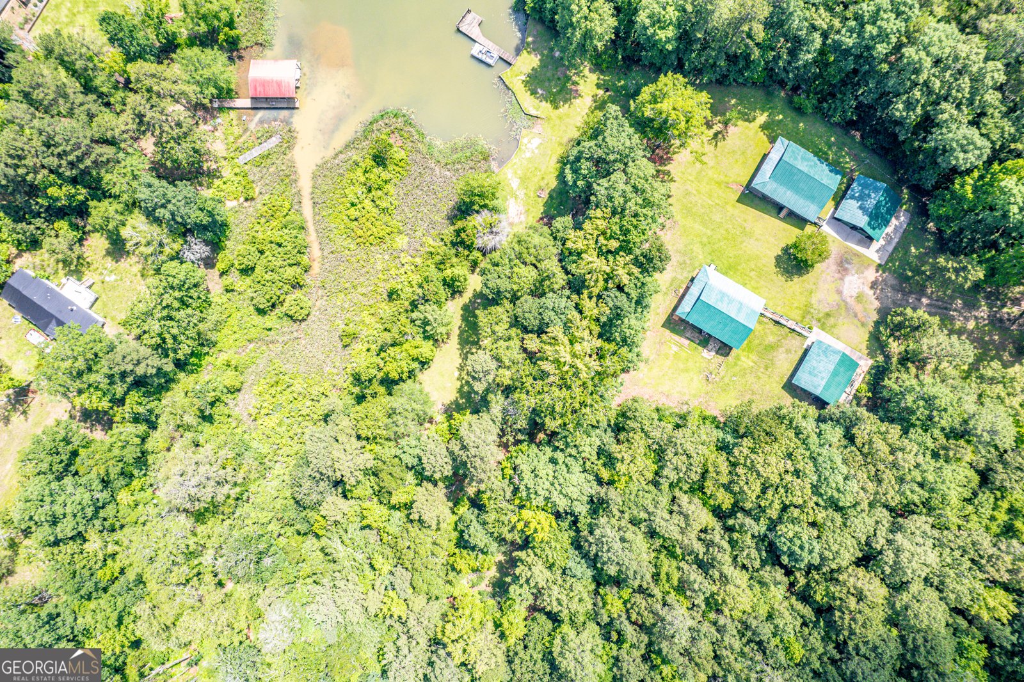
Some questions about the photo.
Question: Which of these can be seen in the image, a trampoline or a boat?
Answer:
boat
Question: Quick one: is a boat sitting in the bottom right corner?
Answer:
No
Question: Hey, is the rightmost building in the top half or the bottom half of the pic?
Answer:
top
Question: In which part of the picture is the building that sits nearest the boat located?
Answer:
top left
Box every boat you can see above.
[471,42,499,67]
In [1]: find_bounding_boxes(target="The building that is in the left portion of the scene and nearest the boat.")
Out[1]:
[247,59,304,106]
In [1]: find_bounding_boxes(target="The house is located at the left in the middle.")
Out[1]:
[2,268,105,345]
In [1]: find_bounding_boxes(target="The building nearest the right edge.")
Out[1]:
[830,175,902,242]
